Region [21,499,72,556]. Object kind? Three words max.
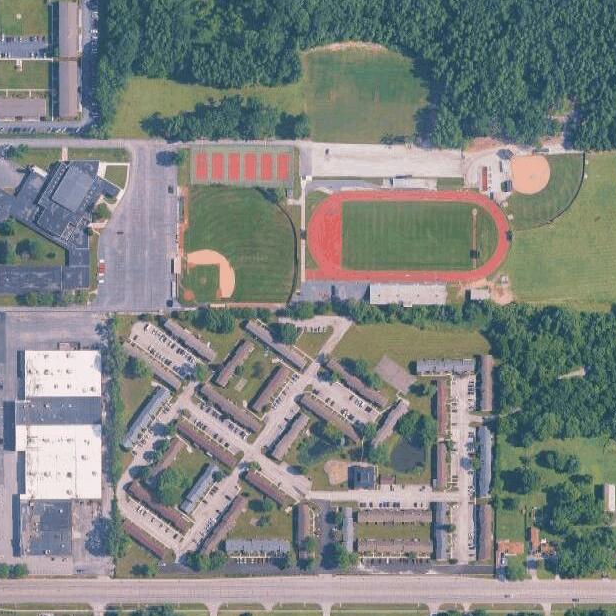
building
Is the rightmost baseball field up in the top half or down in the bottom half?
top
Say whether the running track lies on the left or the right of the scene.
right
